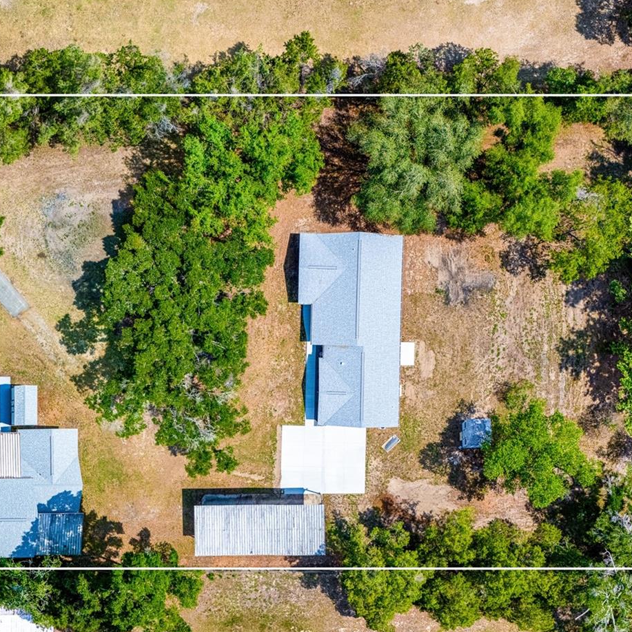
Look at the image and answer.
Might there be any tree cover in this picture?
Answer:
Yes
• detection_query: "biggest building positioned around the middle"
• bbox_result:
[298,233,402,429]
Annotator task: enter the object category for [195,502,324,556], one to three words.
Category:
shed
